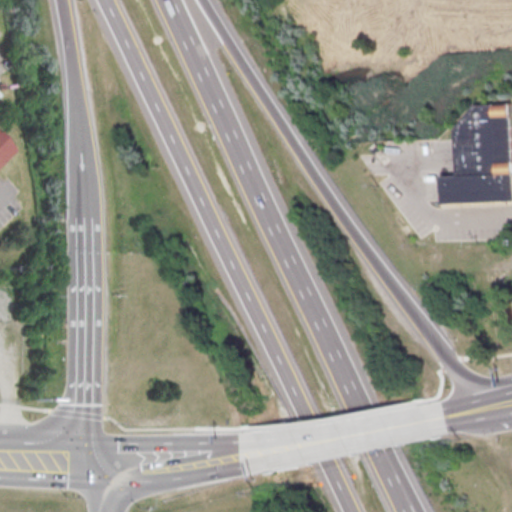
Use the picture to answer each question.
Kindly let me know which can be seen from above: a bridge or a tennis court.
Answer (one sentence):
This aerial view contains a bridge.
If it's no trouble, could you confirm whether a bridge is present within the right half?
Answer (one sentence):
Yes, I can see a bridge within the right half.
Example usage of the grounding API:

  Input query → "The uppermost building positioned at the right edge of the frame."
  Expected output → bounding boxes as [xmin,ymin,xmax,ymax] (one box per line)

[438,102,512,209]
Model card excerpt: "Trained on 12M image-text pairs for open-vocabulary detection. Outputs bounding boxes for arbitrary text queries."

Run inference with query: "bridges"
[238,398,448,477]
